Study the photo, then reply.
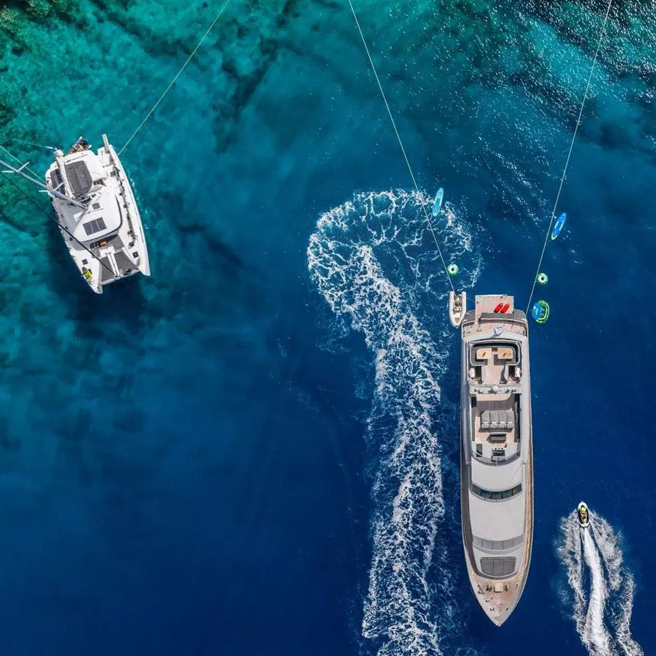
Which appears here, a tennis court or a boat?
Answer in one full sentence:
Visible in the photo is a boat.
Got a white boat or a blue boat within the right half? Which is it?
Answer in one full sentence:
What appears within the right half is a white boat.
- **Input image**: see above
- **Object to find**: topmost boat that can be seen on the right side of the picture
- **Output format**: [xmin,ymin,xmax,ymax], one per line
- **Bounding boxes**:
[449,292,470,327]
